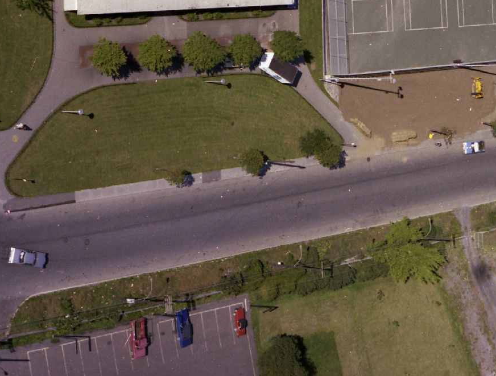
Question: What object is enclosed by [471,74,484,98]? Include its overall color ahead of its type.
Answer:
yellow vehicle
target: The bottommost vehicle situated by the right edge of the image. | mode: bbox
[463,141,485,154]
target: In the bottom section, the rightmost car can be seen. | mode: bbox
[233,307,247,337]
